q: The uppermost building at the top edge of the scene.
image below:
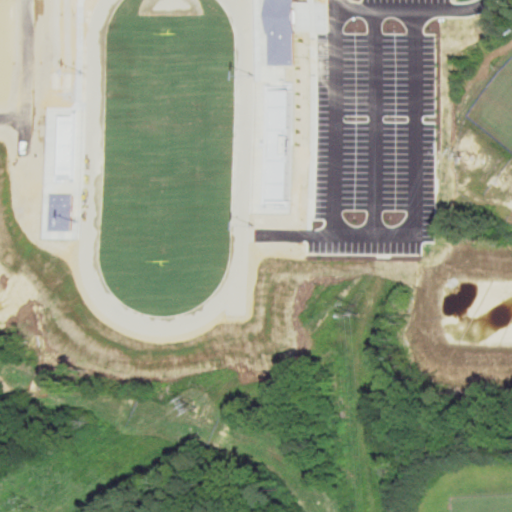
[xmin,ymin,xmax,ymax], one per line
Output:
[264,0,301,65]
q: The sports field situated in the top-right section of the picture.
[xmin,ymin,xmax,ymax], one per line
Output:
[468,60,512,156]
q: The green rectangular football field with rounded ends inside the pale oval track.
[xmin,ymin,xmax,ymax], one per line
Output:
[102,0,236,316]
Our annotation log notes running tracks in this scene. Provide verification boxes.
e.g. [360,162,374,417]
[80,0,258,338]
